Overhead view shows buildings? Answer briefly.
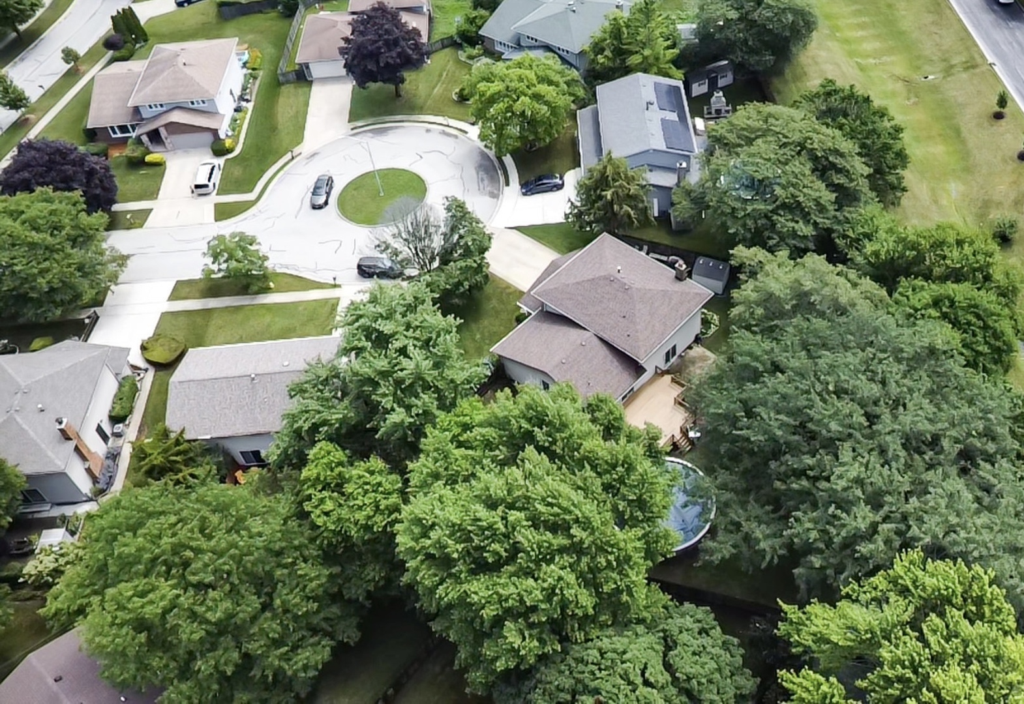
Yes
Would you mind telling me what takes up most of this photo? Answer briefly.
trees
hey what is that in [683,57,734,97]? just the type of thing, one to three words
shed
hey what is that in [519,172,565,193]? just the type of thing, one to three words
car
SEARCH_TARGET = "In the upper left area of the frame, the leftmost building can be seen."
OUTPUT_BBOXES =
[81,38,247,163]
